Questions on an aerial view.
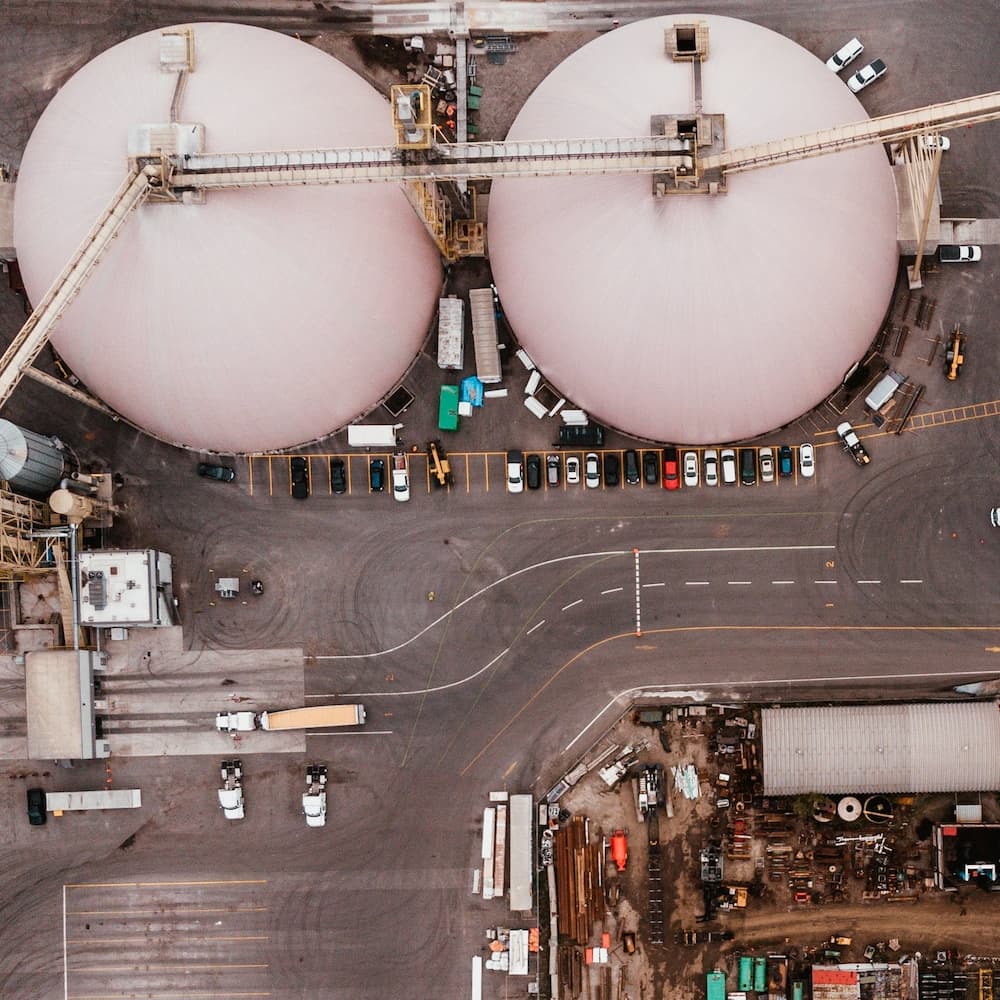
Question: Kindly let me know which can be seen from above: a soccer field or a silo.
silo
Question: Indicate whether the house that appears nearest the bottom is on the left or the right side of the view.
right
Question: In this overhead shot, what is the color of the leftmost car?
black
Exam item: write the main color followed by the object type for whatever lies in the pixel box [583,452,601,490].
white car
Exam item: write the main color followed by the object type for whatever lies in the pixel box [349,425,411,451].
white trailer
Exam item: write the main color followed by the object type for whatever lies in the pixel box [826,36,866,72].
white truck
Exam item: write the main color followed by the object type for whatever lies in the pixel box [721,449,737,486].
white vehicle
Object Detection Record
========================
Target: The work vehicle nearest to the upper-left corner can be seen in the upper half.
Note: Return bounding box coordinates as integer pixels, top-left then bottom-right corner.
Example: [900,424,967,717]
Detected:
[401,31,425,51]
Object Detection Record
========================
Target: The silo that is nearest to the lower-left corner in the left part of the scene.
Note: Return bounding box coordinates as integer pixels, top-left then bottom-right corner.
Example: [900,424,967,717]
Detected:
[50,489,104,529]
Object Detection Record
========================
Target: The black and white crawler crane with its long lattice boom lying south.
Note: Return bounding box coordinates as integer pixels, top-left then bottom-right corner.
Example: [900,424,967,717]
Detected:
[632,755,668,946]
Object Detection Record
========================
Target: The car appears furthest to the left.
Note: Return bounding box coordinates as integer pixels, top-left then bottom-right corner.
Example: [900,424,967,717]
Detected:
[26,788,48,826]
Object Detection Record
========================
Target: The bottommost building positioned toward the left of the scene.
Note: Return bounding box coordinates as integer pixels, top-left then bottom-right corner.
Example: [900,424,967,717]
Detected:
[79,550,182,632]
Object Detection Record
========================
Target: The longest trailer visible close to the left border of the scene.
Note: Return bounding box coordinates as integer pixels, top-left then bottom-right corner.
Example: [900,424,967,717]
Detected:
[47,789,146,811]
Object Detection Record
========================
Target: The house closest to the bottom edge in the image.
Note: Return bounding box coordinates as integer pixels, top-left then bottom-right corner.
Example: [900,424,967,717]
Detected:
[812,963,905,1000]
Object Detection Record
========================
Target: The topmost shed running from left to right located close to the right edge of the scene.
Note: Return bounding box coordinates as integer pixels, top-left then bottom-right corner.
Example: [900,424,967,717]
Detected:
[763,701,1000,796]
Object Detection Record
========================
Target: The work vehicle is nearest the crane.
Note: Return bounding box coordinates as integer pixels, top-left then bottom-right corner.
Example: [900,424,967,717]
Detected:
[709,888,749,908]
